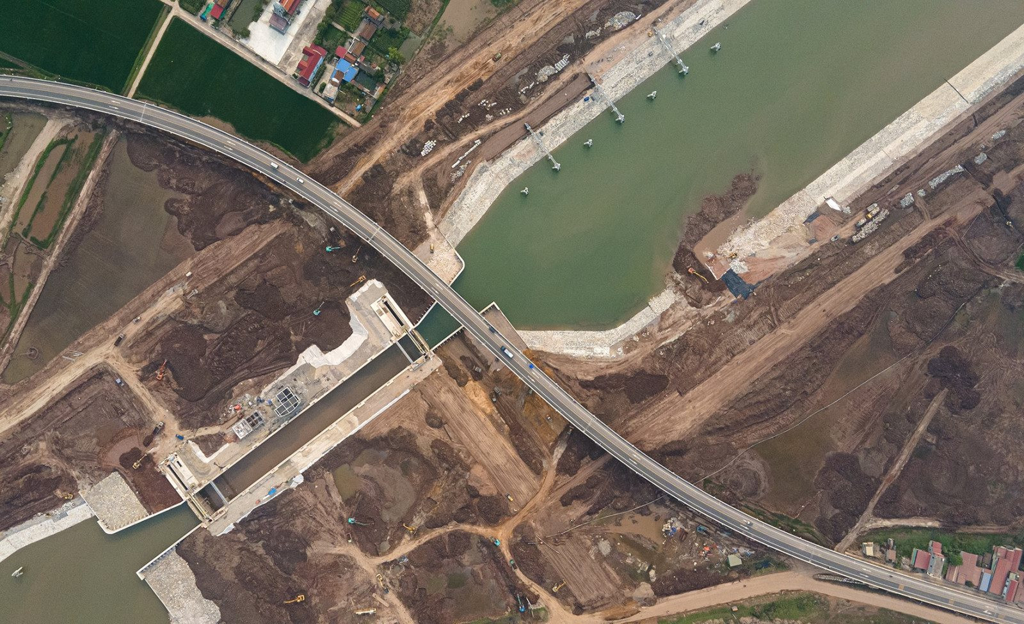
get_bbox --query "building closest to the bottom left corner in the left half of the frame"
[232,410,266,439]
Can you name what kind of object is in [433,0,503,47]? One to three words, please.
pond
